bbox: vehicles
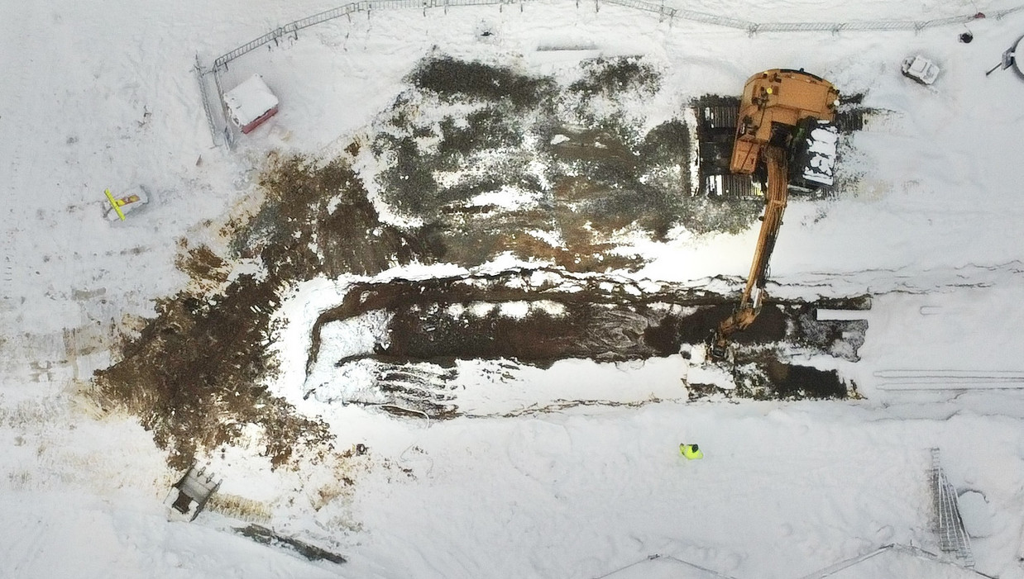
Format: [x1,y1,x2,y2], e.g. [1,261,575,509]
[695,68,840,363]
[898,56,939,87]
